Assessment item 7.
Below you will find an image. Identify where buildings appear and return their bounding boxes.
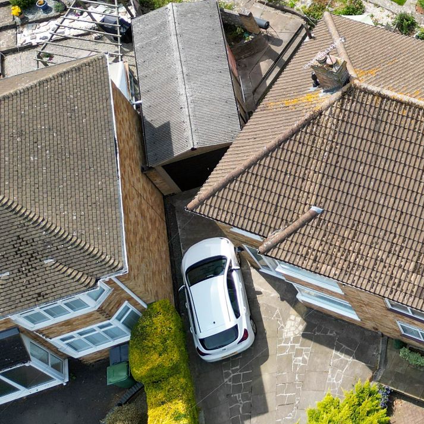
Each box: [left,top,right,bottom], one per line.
[0,59,182,400]
[185,14,424,350]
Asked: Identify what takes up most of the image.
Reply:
buildings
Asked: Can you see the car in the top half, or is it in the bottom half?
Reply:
bottom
